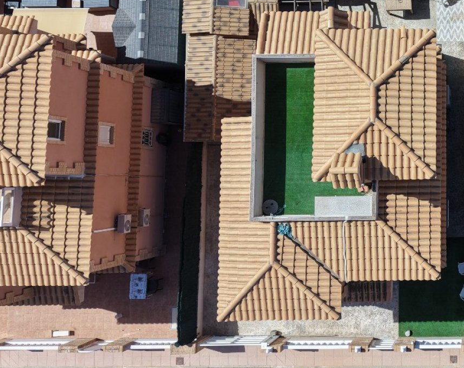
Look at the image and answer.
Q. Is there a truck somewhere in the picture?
No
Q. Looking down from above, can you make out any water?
No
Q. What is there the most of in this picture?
buildings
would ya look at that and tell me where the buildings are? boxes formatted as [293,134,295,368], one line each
[213,2,453,323]
[0,8,161,310]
